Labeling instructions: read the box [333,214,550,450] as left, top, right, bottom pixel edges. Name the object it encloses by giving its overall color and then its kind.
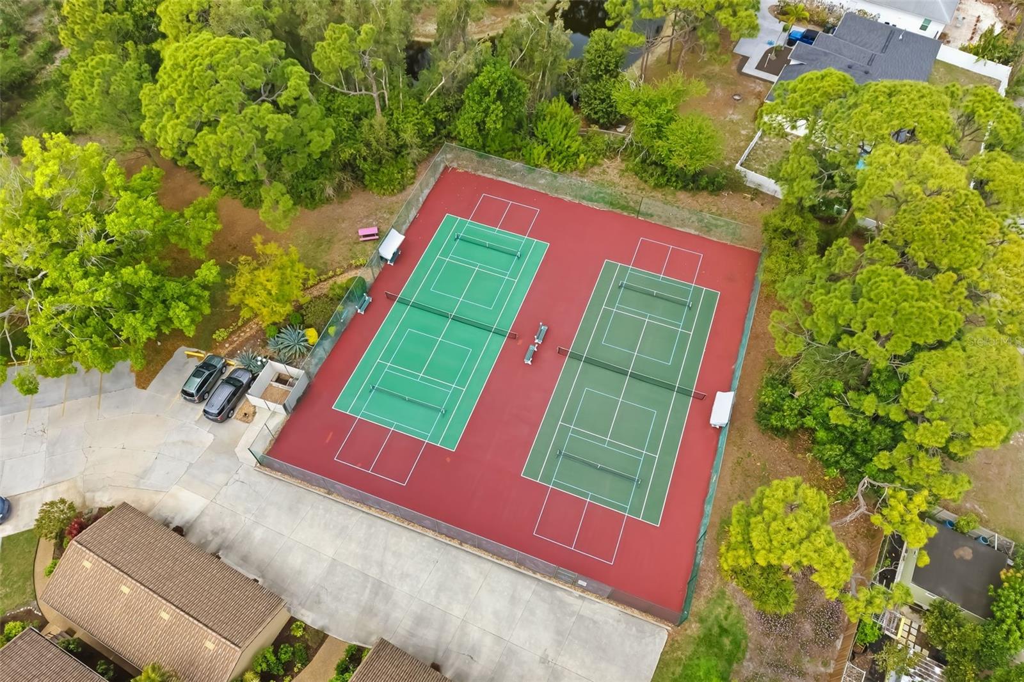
green tennis court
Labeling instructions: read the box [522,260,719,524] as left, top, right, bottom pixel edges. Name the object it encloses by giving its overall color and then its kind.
green tennis court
